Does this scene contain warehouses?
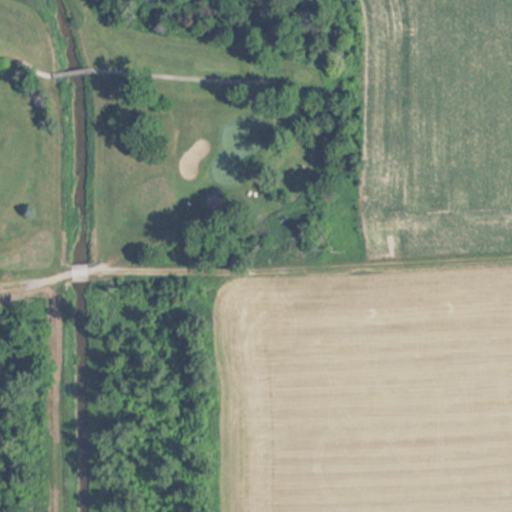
No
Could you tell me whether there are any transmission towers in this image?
No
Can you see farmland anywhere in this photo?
Yes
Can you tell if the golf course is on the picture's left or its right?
left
